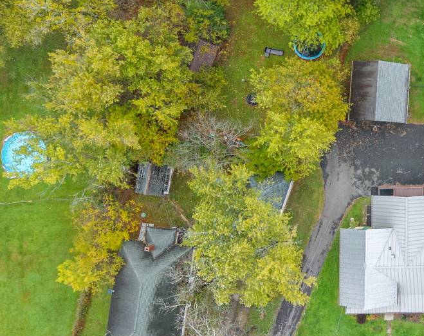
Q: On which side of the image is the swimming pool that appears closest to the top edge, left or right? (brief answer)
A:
left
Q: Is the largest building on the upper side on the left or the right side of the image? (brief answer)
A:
right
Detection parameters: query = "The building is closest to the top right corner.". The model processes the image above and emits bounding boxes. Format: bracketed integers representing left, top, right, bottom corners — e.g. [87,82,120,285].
[349,59,412,124]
